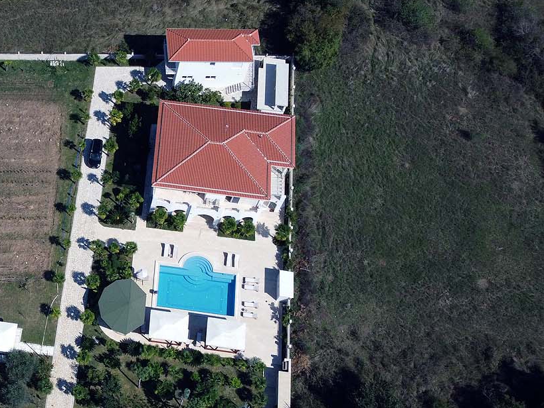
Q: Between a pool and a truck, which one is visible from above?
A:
pool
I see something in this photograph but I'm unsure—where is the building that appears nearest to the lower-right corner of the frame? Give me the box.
[272,272,298,308]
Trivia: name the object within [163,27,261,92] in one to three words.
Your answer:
house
